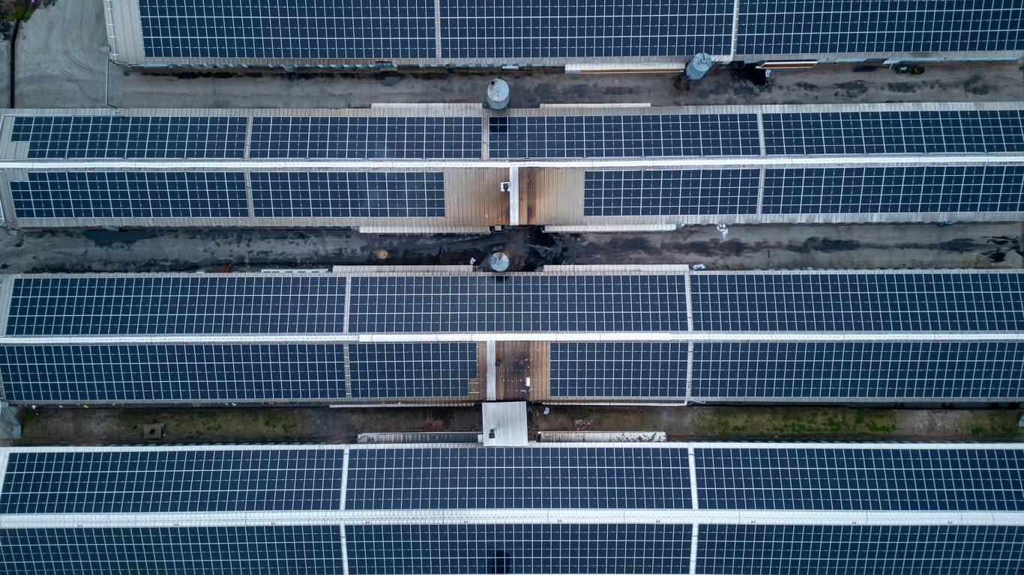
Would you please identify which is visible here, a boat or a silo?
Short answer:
silo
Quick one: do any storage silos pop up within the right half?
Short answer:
Yes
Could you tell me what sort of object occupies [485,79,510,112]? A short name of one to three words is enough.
silo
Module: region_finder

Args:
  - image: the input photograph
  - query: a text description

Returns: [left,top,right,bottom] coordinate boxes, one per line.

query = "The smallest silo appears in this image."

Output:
[489,252,510,272]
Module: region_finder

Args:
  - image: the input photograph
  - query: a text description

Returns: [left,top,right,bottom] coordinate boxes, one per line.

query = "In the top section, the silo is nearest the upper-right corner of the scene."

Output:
[677,51,712,91]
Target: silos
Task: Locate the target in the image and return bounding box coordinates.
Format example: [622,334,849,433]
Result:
[489,252,510,272]
[677,51,712,91]
[485,79,510,112]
